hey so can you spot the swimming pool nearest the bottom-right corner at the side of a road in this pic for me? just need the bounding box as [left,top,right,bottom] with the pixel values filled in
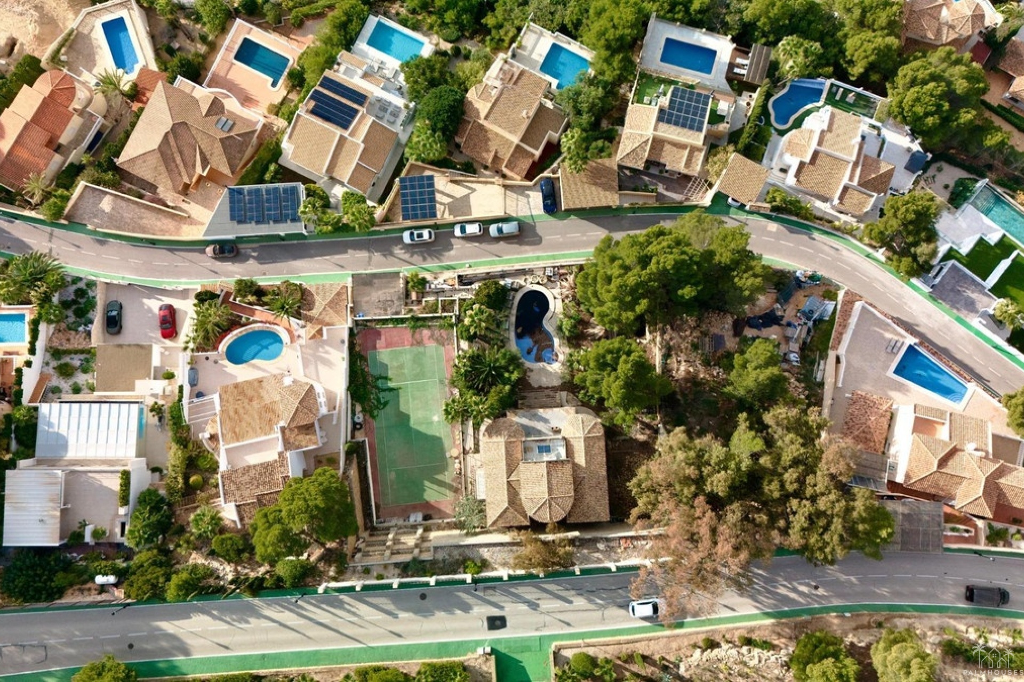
[887,340,973,410]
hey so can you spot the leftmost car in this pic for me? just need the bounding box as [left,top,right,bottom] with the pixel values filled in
[105,300,124,335]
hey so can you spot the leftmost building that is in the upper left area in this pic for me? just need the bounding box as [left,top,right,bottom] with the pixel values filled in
[0,69,116,209]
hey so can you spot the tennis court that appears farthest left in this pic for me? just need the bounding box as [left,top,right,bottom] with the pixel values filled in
[368,345,454,507]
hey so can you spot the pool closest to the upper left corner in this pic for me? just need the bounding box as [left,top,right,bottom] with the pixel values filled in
[97,12,143,79]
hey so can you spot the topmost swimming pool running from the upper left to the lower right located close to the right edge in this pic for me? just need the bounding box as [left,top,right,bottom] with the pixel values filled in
[969,186,1024,254]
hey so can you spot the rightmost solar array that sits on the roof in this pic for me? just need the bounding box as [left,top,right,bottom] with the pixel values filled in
[658,88,710,131]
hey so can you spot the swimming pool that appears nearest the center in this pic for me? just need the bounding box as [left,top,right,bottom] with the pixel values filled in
[509,285,561,370]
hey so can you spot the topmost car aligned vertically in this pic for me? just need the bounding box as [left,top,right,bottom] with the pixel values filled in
[540,178,557,214]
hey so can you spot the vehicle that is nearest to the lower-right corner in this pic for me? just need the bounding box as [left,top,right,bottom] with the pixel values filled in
[965,586,1005,605]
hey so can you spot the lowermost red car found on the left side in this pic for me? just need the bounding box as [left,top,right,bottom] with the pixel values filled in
[158,304,178,339]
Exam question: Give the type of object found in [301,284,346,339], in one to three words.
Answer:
building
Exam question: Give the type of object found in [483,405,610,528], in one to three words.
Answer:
house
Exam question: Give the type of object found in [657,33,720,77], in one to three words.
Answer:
swimming pool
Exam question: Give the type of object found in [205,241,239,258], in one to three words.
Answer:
car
